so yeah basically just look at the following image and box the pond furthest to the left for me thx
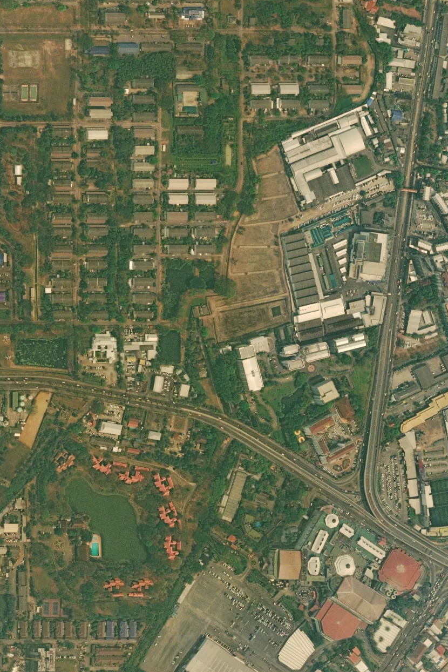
[15,338,73,369]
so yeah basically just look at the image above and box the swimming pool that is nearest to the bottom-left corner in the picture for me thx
[90,532,104,560]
